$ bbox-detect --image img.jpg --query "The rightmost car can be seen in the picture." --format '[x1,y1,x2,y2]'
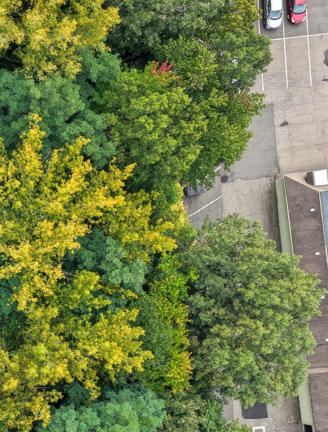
[286,0,311,23]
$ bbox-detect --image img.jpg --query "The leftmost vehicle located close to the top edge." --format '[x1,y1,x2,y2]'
[263,0,287,28]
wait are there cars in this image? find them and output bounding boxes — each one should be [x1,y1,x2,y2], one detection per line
[263,0,287,28]
[286,0,311,23]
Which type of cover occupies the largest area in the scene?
trees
